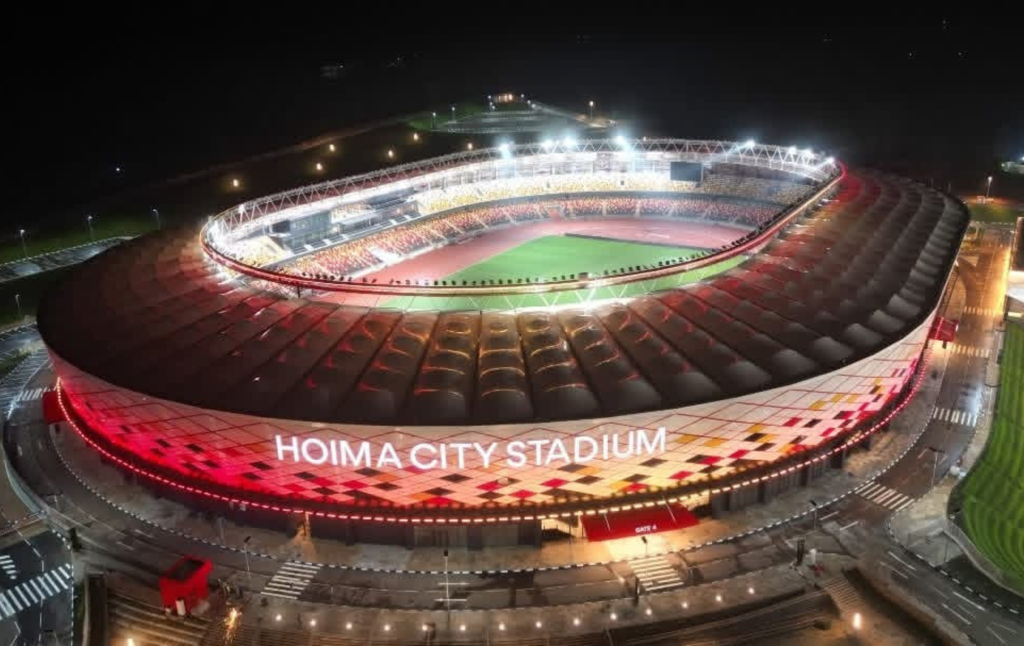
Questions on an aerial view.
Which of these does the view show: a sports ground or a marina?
sports ground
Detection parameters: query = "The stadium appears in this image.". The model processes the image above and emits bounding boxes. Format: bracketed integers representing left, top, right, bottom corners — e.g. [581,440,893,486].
[28,136,970,551]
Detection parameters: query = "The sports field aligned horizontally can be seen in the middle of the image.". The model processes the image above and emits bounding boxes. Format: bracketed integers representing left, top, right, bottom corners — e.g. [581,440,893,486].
[379,234,756,318]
